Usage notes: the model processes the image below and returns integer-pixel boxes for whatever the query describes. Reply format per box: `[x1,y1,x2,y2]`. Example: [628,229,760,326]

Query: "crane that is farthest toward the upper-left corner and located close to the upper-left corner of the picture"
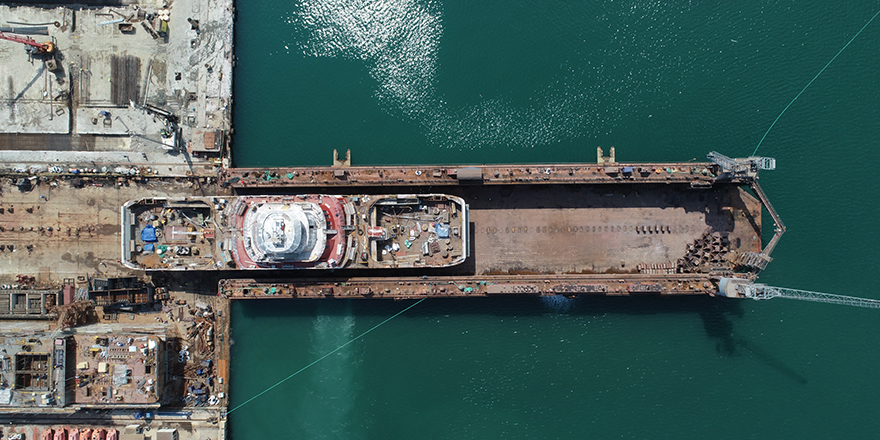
[0,34,56,60]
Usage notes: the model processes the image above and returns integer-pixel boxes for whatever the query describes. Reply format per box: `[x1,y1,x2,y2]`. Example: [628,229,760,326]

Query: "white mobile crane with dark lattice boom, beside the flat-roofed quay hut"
[129,99,184,156]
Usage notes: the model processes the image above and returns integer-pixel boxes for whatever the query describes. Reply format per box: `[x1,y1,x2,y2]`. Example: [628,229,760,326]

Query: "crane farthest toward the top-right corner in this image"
[706,150,776,185]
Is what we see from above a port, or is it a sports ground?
port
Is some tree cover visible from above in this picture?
No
